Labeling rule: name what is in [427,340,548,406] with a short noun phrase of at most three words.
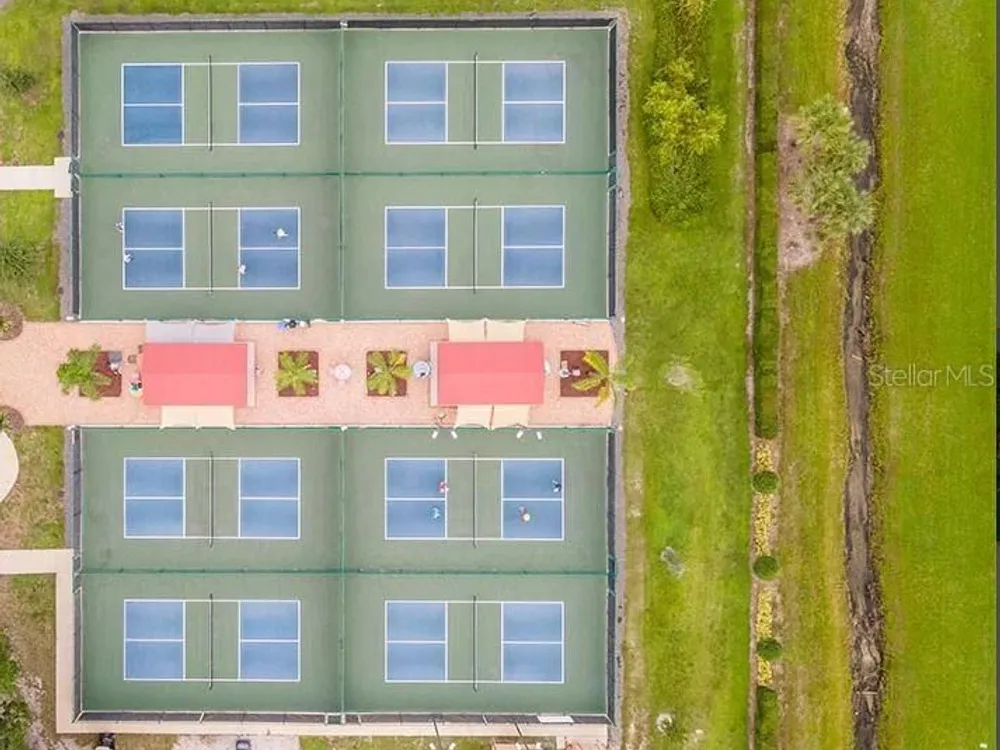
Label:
building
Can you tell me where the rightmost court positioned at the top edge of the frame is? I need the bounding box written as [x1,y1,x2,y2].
[343,29,607,175]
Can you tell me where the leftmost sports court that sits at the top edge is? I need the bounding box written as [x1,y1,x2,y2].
[80,31,342,176]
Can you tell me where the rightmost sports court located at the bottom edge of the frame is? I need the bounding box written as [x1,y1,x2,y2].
[343,571,605,714]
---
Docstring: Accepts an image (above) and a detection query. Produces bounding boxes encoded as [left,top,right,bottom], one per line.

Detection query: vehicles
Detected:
[233,740,252,750]
[94,734,116,750]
